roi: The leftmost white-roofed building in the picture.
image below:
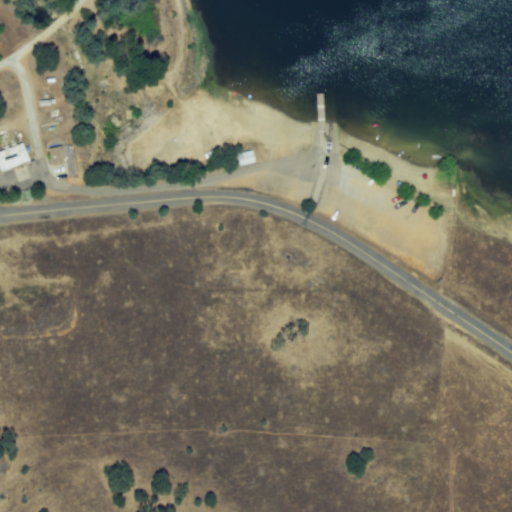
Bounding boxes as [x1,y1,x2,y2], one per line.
[0,143,31,173]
